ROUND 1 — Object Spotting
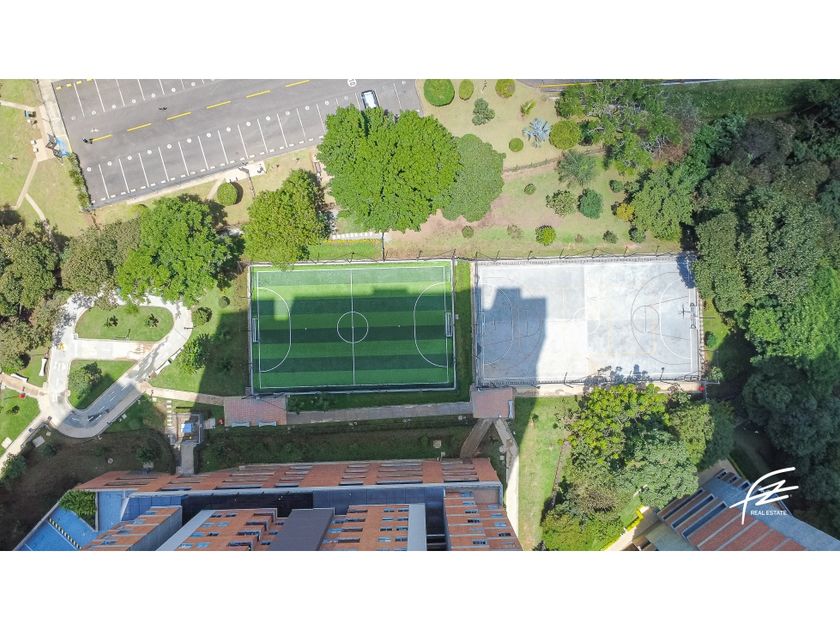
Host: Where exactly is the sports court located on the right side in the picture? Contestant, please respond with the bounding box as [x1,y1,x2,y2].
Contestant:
[473,253,701,388]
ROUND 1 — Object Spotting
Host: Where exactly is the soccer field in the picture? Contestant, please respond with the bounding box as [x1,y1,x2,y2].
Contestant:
[249,259,458,393]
